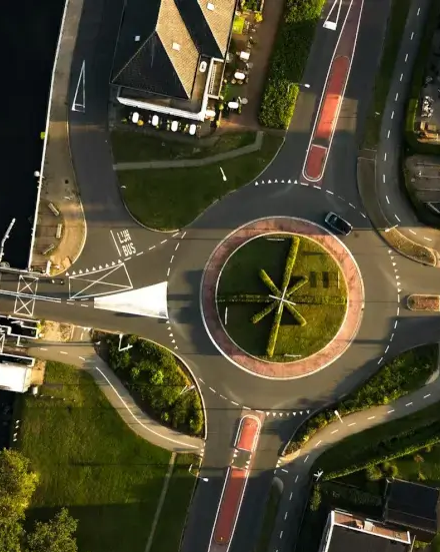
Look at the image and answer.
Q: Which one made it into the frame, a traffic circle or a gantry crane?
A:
traffic circle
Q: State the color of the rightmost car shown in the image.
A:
black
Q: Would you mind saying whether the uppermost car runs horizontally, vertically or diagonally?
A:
diagonally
